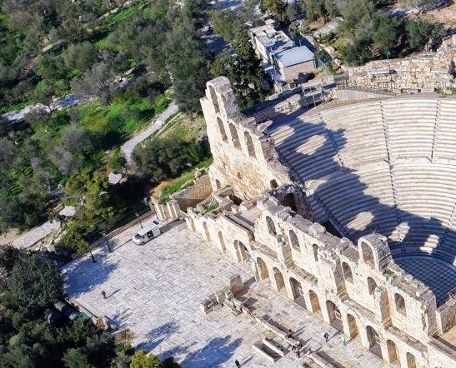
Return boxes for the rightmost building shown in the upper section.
[274,43,317,76]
